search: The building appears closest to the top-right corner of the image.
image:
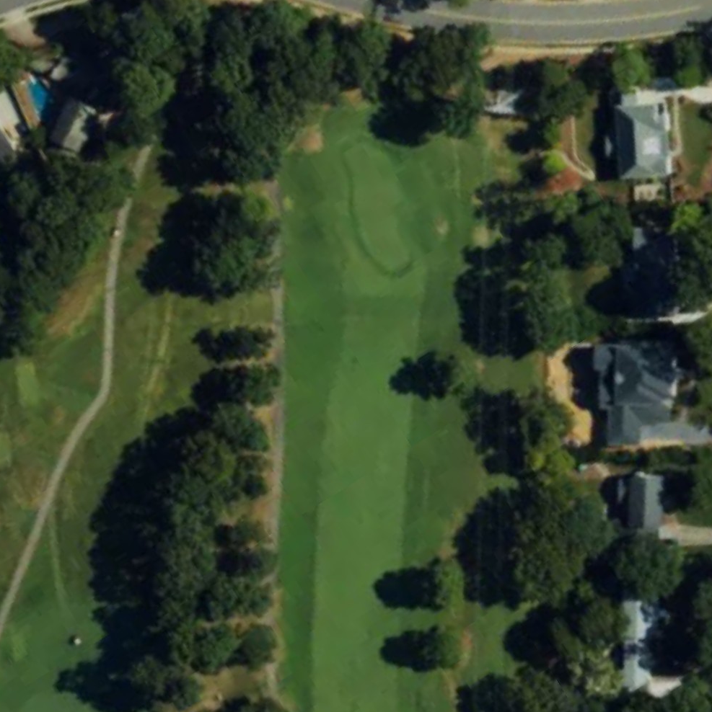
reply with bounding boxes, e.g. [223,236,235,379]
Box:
[615,104,674,180]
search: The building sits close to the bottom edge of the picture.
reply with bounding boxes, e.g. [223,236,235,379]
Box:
[620,599,657,693]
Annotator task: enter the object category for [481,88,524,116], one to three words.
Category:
house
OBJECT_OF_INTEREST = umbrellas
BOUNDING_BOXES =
[52,63,66,78]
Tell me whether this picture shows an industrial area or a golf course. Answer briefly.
golf course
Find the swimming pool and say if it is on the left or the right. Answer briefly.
left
